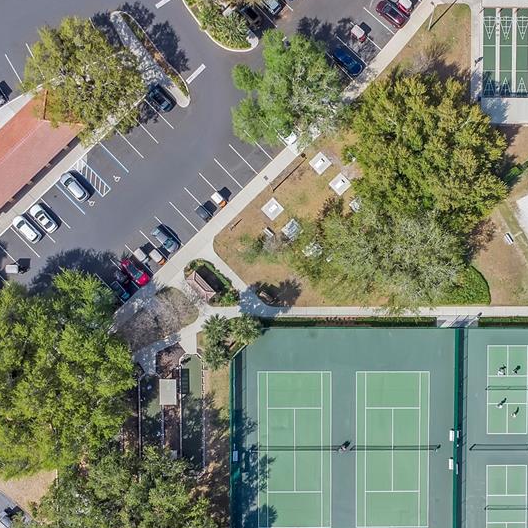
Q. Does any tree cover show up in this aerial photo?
Yes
